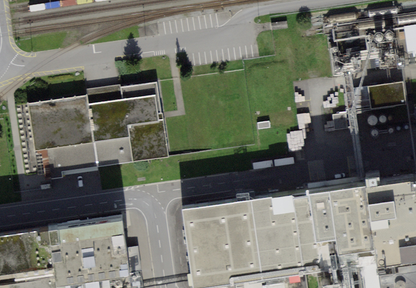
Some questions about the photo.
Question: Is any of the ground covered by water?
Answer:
No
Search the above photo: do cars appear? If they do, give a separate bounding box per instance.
[78,176,84,188]
[334,172,346,178]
